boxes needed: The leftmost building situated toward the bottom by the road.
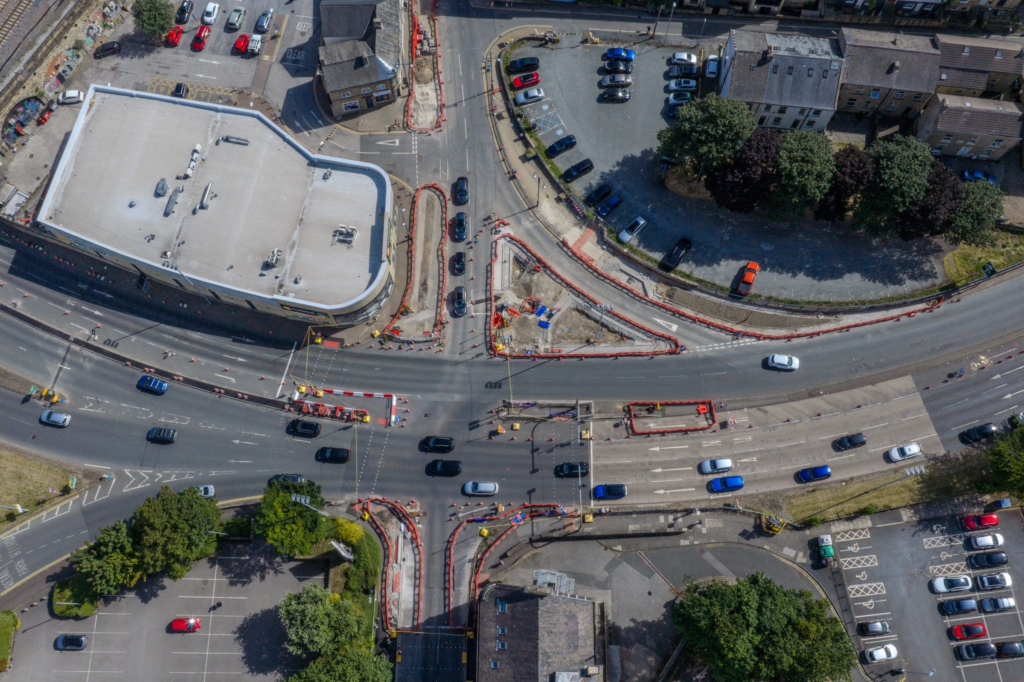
[476,584,608,682]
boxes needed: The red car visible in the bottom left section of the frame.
[171,616,203,633]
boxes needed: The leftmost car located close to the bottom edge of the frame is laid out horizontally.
[53,634,89,652]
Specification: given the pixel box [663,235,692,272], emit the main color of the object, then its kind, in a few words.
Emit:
black truck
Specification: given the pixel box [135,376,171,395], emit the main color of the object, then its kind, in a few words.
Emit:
blue car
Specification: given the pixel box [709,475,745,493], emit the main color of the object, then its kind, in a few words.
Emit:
blue car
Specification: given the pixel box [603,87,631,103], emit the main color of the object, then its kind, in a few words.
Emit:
black car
